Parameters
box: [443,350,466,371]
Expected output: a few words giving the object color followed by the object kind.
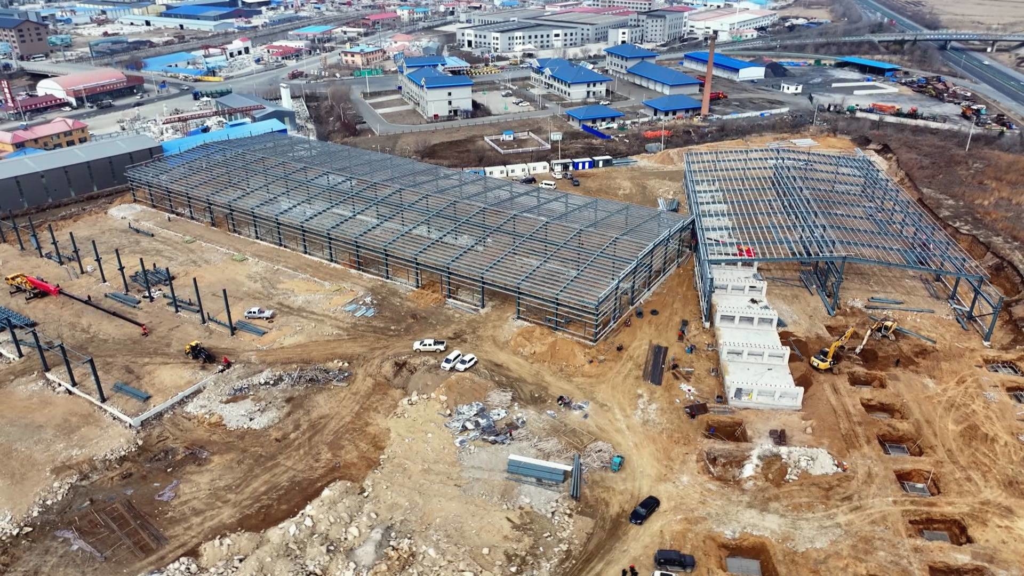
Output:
white car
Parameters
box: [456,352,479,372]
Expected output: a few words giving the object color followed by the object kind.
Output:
white car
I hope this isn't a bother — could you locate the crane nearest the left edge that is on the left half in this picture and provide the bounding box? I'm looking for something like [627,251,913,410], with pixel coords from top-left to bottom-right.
[0,276,150,331]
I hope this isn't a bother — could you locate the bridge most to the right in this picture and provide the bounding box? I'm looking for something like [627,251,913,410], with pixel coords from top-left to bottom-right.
[740,30,1024,52]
